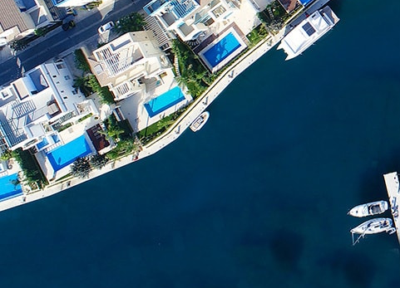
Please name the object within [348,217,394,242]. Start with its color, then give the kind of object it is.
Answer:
white boat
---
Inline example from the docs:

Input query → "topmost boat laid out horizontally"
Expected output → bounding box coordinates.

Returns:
[346,199,390,217]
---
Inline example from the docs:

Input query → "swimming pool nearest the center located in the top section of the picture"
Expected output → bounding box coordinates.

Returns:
[139,83,191,124]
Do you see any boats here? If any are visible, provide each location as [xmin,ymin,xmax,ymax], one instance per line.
[191,112,214,133]
[346,199,390,217]
[348,217,394,242]
[276,5,343,62]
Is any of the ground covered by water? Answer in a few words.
Yes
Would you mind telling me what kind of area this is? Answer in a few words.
residential area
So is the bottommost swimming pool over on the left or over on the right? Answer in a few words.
left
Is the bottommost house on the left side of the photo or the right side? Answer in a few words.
left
